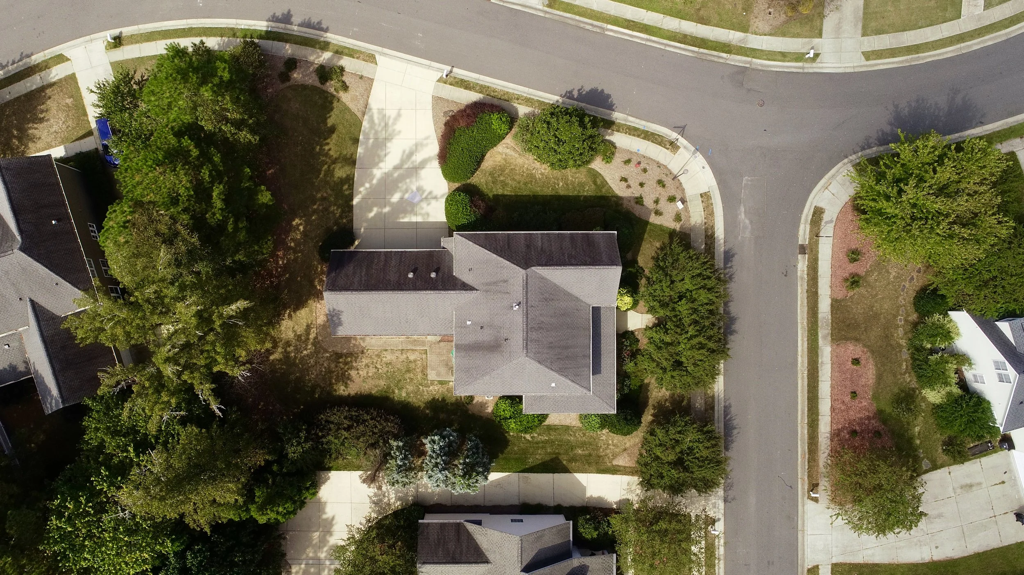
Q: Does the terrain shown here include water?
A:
No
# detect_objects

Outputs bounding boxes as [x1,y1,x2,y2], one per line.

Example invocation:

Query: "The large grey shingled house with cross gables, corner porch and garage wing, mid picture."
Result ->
[322,230,622,415]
